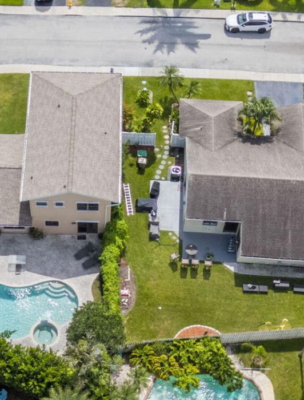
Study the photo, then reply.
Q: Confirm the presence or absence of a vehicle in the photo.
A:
Yes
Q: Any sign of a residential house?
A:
Yes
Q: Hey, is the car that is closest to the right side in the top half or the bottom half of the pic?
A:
top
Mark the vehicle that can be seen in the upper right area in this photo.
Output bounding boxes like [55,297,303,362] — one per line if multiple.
[223,11,274,35]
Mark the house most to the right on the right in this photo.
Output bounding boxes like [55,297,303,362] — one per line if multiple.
[179,99,304,270]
